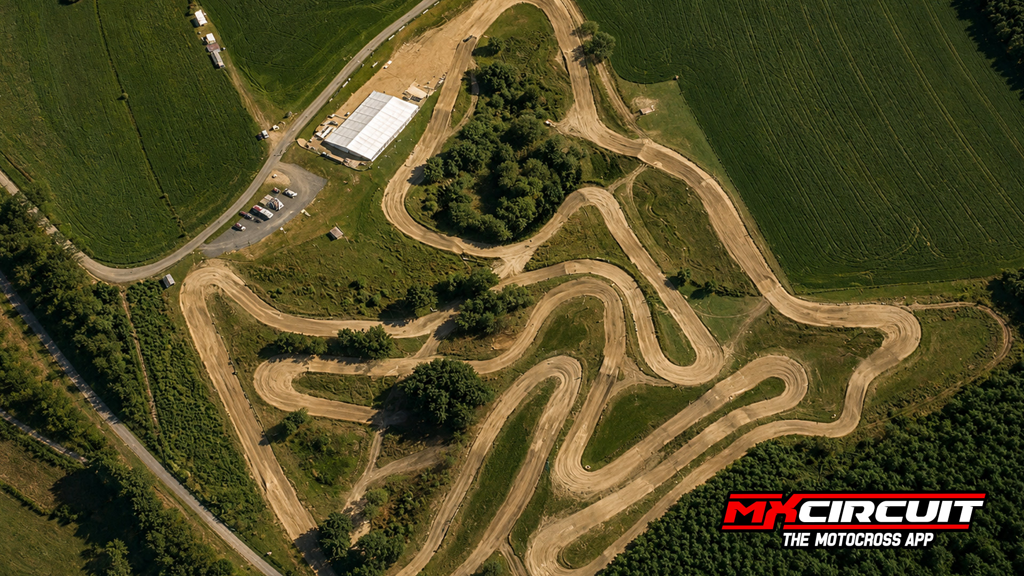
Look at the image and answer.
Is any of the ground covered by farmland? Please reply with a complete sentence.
Yes, farmland can be seen from above here.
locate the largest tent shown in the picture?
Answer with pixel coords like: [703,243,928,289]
[324,90,420,163]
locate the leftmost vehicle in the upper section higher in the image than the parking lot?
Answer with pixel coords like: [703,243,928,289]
[208,50,226,71]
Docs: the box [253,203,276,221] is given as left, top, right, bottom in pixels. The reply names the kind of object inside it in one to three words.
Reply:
vehicle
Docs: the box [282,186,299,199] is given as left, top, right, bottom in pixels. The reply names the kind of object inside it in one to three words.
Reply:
vehicle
